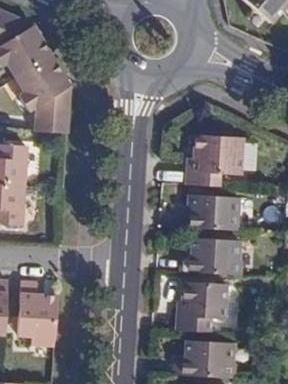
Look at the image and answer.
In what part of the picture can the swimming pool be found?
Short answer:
right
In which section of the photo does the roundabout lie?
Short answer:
top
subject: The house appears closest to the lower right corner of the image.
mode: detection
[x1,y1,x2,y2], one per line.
[182,341,238,378]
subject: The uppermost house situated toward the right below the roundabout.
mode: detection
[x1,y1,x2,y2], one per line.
[184,135,257,187]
